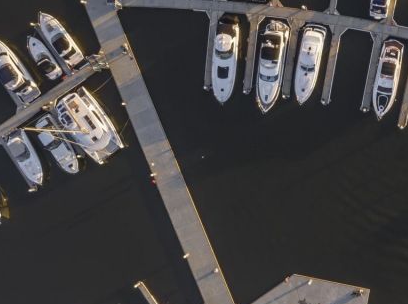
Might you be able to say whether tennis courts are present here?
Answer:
No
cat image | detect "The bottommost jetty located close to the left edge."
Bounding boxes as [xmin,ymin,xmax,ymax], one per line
[0,23,95,188]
